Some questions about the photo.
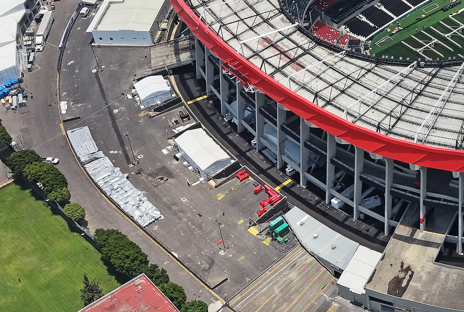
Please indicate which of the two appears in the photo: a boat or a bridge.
bridge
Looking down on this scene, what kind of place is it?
sports ground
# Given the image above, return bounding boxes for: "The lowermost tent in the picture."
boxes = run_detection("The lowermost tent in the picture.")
[175,128,230,177]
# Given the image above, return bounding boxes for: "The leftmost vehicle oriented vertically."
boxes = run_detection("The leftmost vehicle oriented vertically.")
[35,7,51,45]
